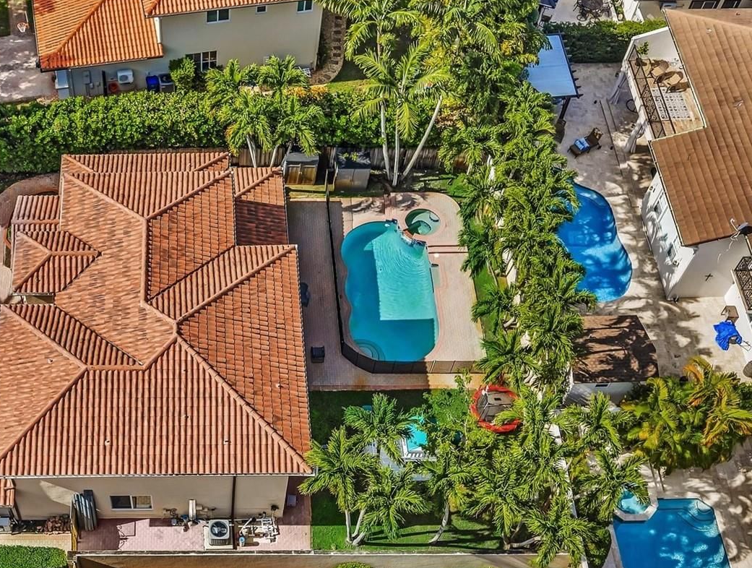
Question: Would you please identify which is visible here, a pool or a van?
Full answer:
The one in the frame is a pool.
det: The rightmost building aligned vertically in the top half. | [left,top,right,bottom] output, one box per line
[597,2,752,357]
